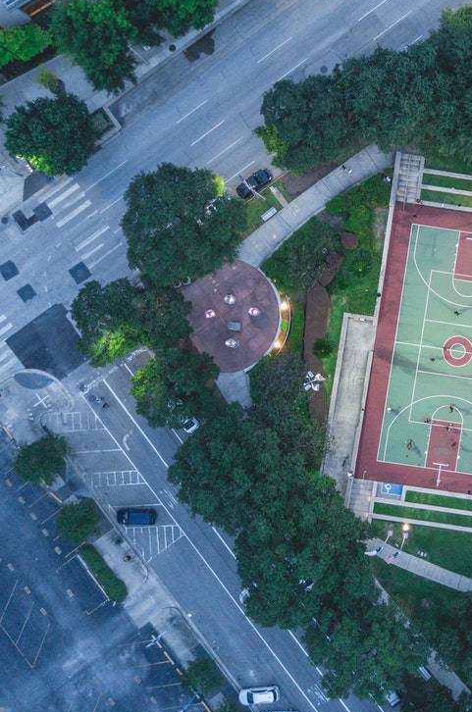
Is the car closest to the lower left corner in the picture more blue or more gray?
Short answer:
blue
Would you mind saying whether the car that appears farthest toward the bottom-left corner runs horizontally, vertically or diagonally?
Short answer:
horizontally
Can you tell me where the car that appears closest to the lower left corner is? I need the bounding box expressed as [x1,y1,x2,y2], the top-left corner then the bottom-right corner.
[116,507,159,528]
